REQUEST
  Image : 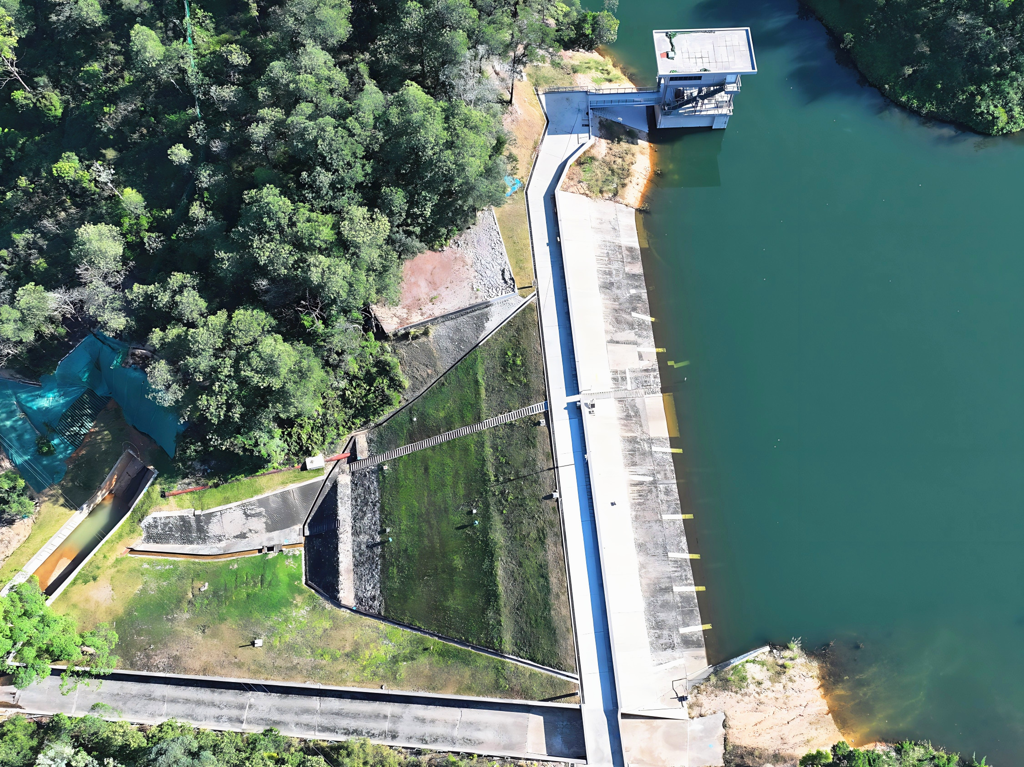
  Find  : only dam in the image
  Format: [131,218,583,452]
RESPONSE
[304,88,728,767]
